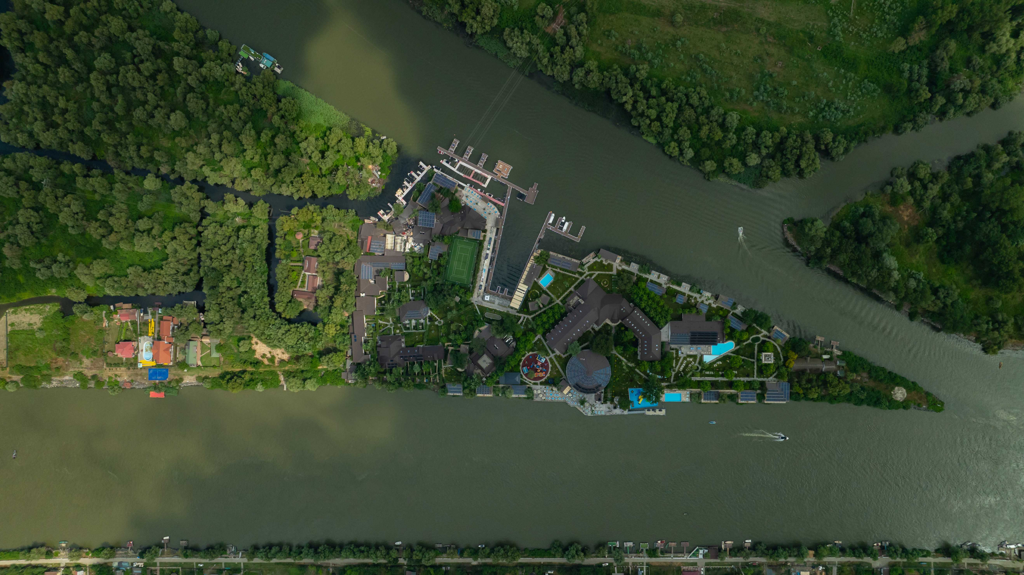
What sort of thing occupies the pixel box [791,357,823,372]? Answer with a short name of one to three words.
house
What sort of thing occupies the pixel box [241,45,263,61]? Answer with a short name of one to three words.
ship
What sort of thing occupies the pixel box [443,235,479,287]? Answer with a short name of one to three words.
tennis court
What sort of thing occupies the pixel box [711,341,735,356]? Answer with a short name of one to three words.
swimming pool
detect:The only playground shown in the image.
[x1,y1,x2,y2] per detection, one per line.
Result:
[522,353,550,381]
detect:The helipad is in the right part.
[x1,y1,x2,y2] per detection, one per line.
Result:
[893,387,908,402]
